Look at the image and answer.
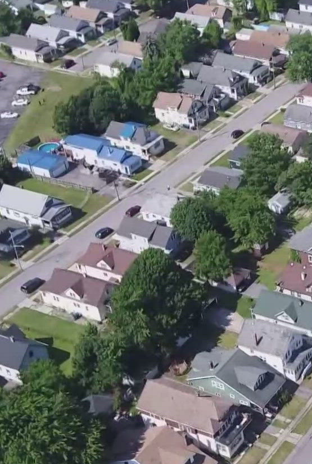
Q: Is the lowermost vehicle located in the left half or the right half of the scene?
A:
left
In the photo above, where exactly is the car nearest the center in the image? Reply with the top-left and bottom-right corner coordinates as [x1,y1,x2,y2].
[122,201,143,218]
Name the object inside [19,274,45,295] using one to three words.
vehicle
